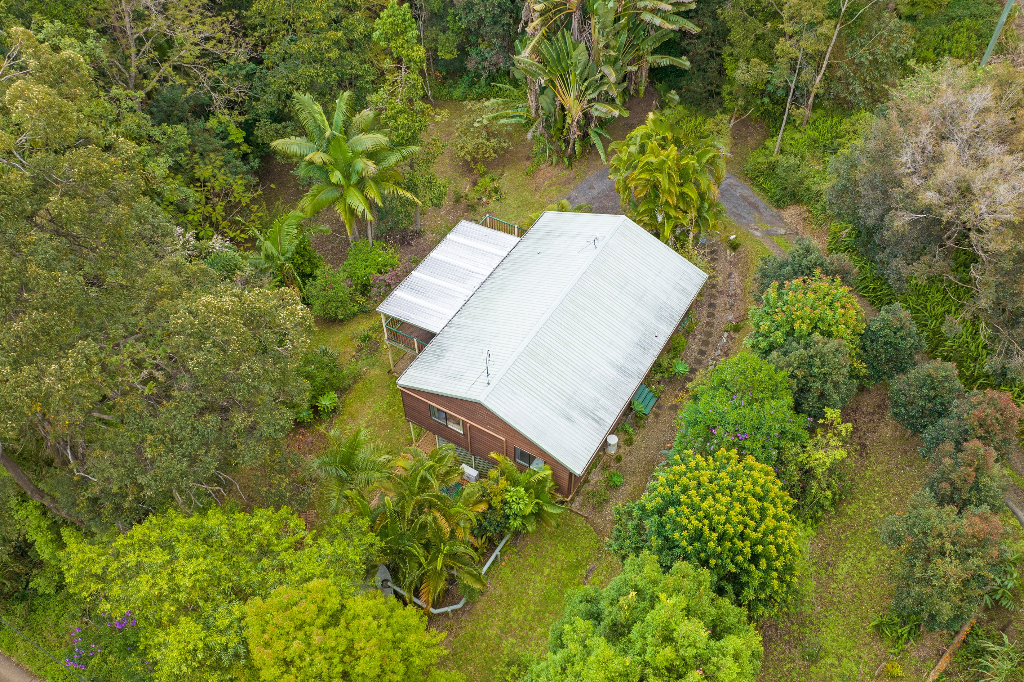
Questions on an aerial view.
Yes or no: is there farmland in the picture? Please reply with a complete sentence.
No, farmland can't be seen anywhere here.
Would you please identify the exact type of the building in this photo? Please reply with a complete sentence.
It turns out the building is a house.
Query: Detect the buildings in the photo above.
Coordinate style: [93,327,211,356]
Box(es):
[374,212,708,502]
